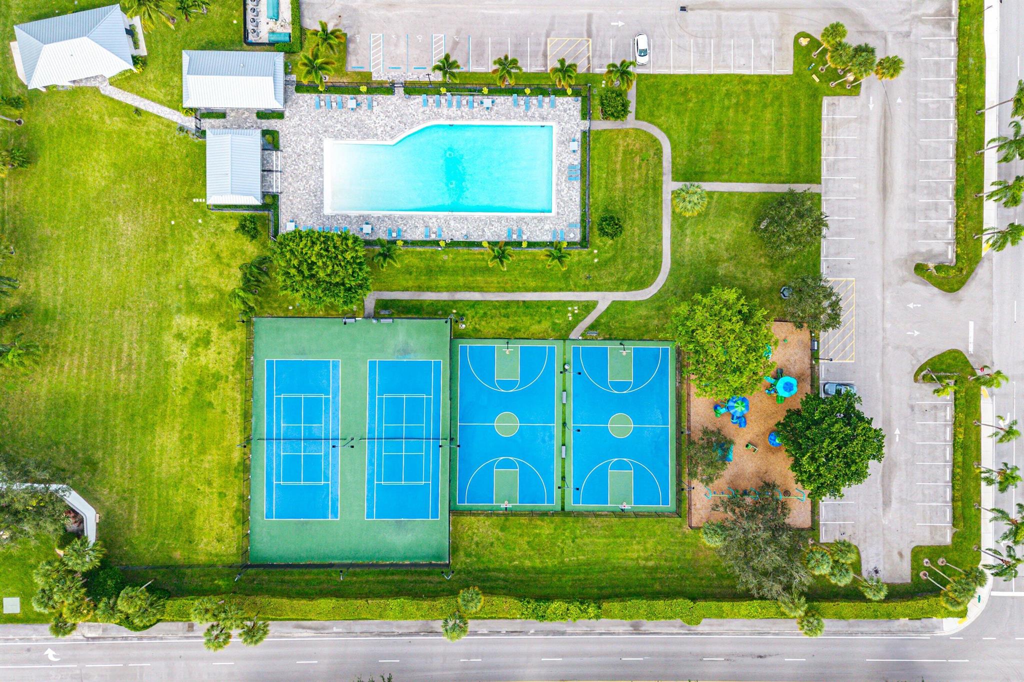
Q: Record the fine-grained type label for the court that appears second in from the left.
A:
tennis court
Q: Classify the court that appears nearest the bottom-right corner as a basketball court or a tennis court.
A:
basketball court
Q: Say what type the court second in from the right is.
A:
basketball court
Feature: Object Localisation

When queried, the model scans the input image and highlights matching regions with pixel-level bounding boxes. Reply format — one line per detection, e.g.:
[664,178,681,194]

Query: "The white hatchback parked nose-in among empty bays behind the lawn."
[634,33,650,65]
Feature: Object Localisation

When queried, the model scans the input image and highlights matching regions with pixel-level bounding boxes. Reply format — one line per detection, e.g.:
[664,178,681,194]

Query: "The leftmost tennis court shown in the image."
[250,318,353,563]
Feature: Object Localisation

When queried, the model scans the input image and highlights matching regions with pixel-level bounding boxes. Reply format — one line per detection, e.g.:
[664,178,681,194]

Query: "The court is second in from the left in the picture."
[351,319,448,564]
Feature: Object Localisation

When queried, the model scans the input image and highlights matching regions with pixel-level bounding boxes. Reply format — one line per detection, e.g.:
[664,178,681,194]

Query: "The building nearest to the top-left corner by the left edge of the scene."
[13,4,140,91]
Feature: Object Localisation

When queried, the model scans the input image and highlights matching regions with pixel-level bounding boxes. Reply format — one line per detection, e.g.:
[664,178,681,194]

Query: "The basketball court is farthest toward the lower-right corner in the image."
[566,340,676,512]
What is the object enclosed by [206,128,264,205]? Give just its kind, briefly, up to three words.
building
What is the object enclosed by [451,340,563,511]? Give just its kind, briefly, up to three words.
basketball court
